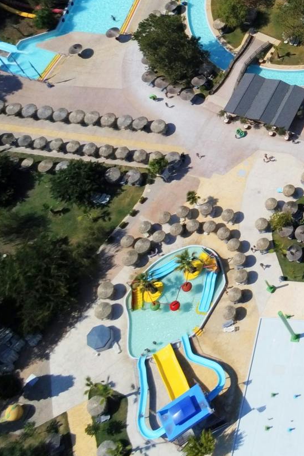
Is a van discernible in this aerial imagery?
No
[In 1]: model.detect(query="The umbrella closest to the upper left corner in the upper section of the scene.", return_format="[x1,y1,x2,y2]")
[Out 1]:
[68,43,85,56]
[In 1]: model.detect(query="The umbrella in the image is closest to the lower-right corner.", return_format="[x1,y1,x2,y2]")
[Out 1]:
[222,304,239,322]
